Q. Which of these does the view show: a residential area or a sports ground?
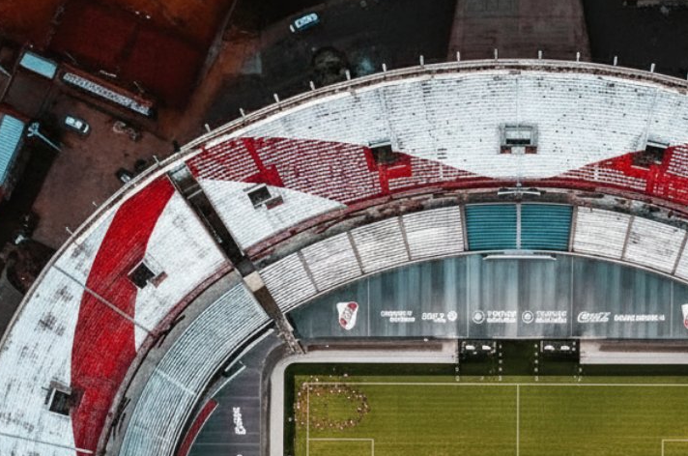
sports ground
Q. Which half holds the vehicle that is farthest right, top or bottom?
top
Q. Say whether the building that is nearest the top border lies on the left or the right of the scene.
left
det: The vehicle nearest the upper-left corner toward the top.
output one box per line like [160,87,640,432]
[65,114,89,132]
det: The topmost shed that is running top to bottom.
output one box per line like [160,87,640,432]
[0,113,34,191]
